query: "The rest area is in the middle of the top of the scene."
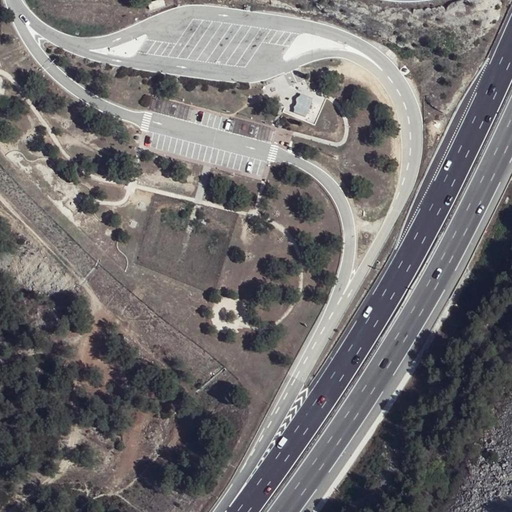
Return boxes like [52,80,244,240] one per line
[28,19,382,176]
